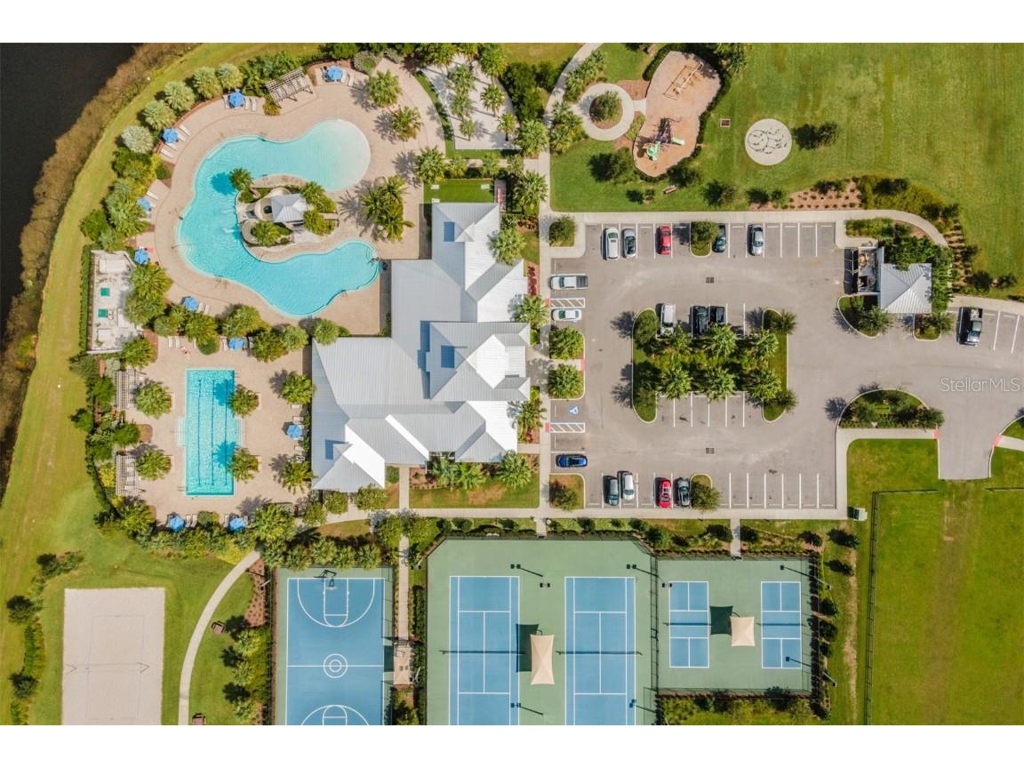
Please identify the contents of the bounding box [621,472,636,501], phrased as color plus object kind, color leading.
white car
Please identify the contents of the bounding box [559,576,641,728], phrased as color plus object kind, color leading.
blue tennis court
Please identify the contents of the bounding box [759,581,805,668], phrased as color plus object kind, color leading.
blue sports court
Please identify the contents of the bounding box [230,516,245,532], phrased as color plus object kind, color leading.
blue umbrella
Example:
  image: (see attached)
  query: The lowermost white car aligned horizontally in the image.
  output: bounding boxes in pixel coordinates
[551,308,581,322]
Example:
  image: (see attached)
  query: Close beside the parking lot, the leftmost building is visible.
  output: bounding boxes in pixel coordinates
[312,204,530,492]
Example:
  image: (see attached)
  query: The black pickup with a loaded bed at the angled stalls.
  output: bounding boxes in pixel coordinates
[959,307,980,346]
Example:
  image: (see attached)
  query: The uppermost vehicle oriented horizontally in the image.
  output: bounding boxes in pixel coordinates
[549,274,588,289]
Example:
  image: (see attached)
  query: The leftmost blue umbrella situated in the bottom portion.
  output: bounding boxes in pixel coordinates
[168,515,184,531]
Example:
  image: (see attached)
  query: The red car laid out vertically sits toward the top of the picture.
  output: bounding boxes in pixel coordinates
[658,226,672,256]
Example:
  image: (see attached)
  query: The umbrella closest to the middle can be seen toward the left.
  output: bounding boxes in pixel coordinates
[287,423,302,438]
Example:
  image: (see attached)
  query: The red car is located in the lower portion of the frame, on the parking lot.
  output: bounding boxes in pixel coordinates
[658,478,672,508]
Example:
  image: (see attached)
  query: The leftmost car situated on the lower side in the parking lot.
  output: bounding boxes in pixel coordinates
[555,454,588,469]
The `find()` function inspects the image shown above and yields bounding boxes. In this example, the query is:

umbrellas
[230,516,245,532]
[134,249,151,264]
[229,336,245,351]
[287,423,302,438]
[163,128,180,144]
[183,296,199,311]
[168,515,184,531]
[228,91,244,107]
[135,198,152,213]
[327,66,343,82]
